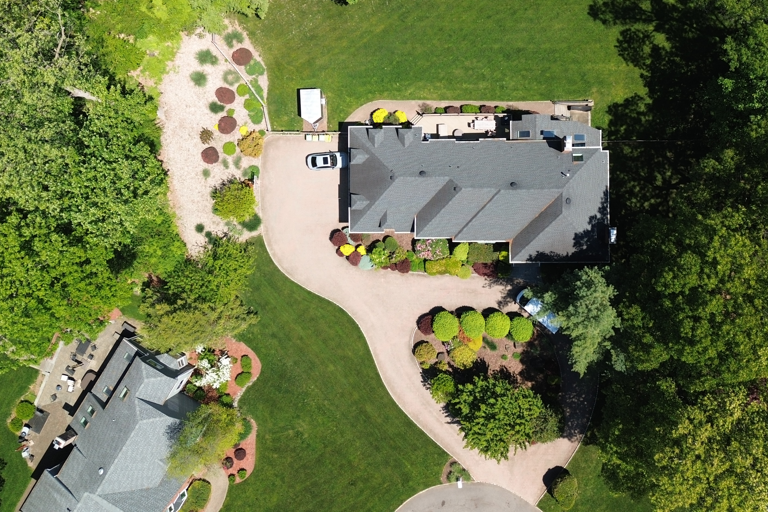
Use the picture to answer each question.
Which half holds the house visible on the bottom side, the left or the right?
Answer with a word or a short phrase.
left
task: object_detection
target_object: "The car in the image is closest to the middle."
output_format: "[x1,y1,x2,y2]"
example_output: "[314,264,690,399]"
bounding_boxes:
[307,151,349,170]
